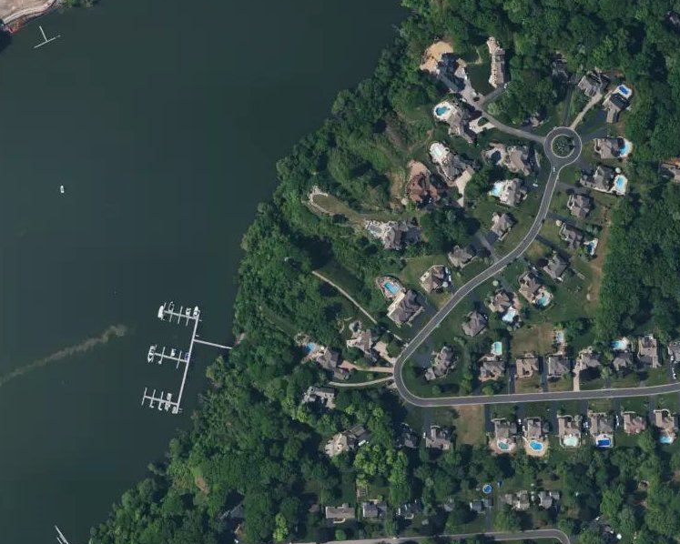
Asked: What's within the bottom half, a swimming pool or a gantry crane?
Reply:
swimming pool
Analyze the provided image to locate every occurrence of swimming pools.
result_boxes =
[305,341,317,354]
[619,135,631,157]
[502,306,517,324]
[612,339,630,350]
[615,81,634,99]
[555,329,564,347]
[383,278,404,301]
[523,438,548,461]
[434,101,454,119]
[490,438,517,453]
[612,173,628,194]
[488,145,505,163]
[352,320,361,332]
[596,434,612,447]
[658,433,674,443]
[488,180,503,196]
[585,240,597,255]
[561,436,581,448]
[535,290,552,308]
[492,341,503,353]
[430,142,448,163]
